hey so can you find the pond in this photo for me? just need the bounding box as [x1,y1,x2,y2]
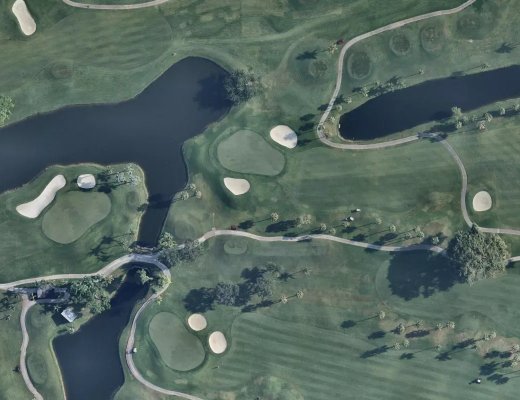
[339,64,520,139]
